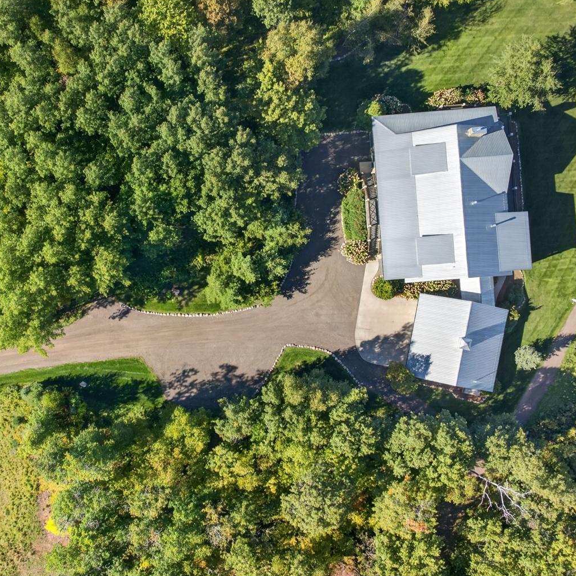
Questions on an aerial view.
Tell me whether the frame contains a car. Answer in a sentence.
No, there isn't any car down there.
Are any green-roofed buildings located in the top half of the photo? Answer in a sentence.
No, no green-roofed building can be made out in the top half of the photo.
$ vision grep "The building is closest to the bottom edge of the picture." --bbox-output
[407,293,508,392]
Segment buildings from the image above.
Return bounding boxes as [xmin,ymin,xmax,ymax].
[407,293,508,392]
[367,107,533,283]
